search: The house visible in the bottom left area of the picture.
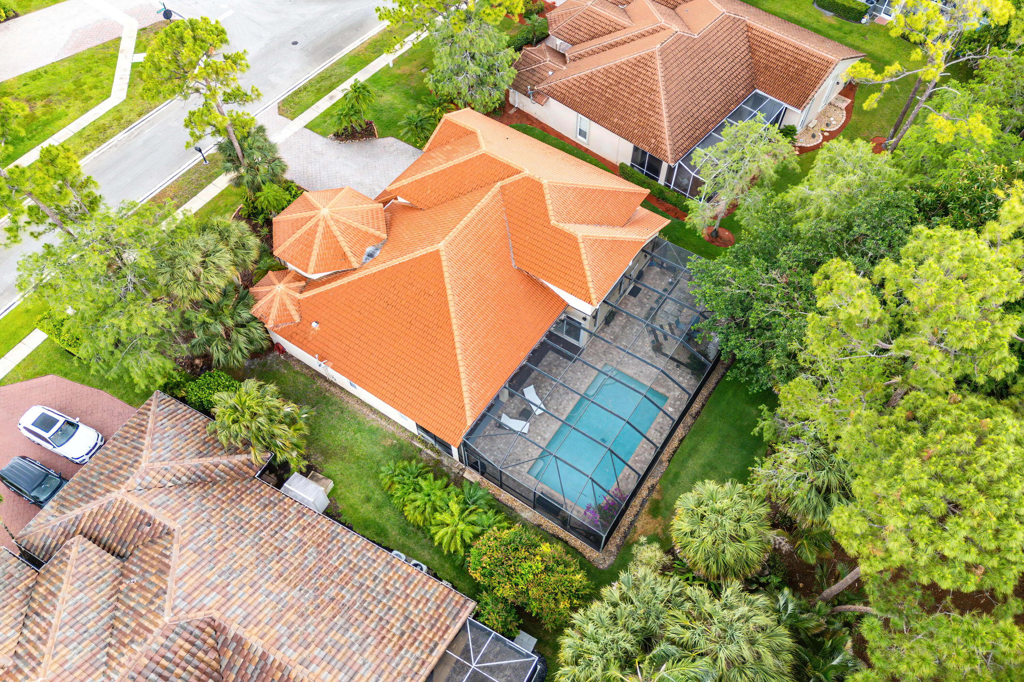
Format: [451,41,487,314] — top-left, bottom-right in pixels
[0,387,479,682]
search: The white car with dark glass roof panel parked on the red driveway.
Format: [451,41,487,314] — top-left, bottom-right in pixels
[13,401,106,468]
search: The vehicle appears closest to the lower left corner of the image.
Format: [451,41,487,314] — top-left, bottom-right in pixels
[0,452,70,511]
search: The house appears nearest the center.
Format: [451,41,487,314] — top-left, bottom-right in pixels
[252,106,673,463]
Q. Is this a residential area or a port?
residential area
